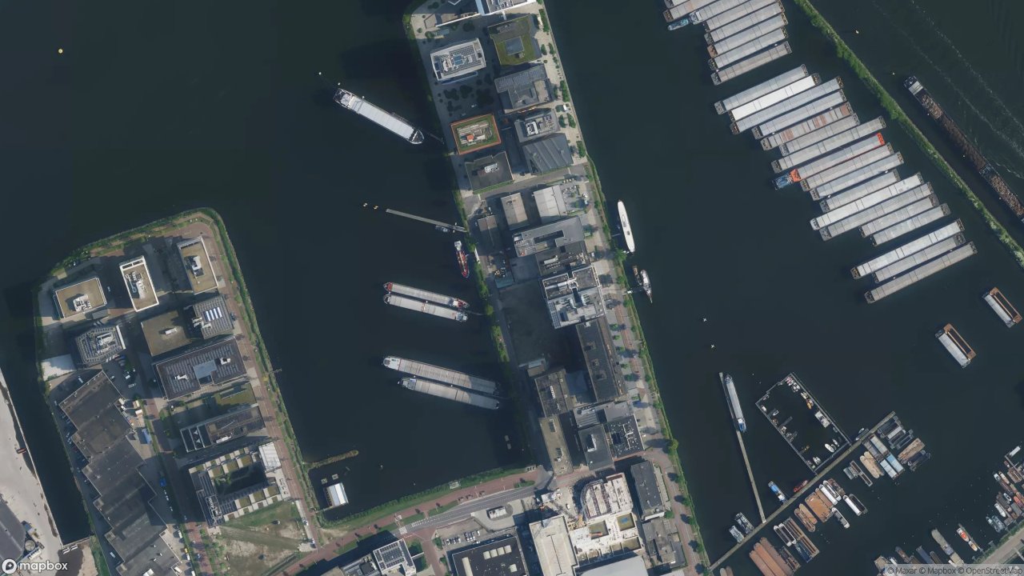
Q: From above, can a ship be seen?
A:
Yes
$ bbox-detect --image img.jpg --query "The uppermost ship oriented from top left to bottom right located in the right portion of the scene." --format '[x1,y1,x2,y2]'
[906,77,991,172]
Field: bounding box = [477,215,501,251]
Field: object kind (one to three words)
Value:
shed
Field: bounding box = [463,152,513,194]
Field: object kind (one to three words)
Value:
building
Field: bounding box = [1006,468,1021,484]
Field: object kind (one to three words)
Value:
vessel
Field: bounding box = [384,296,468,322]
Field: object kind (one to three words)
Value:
ship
